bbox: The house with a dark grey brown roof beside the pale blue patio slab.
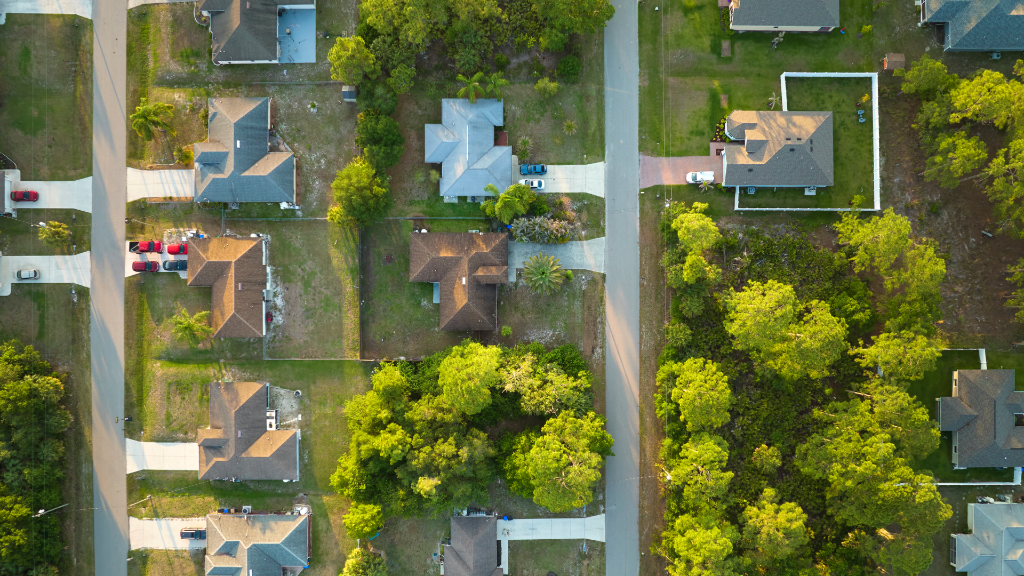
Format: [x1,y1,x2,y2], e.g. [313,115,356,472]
[198,0,317,66]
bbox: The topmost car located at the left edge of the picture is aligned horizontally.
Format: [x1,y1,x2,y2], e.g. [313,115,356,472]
[11,190,41,203]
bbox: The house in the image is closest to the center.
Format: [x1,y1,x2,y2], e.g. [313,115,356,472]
[409,232,509,331]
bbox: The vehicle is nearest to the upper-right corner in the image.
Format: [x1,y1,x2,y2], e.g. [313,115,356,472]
[685,171,715,184]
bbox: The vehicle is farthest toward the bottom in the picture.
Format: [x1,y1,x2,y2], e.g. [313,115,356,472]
[180,527,206,541]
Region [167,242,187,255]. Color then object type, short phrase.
red vehicle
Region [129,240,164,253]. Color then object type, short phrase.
red vehicle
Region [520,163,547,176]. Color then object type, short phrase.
blue vehicle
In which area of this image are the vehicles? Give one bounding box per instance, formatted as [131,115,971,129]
[164,259,187,271]
[520,178,545,191]
[180,527,206,541]
[685,171,715,184]
[11,190,41,203]
[520,163,547,176]
[167,242,187,255]
[132,259,160,272]
[129,240,164,253]
[15,268,41,281]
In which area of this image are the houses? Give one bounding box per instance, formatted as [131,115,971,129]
[198,0,317,66]
[933,369,1024,468]
[0,170,14,215]
[424,98,512,197]
[721,111,833,187]
[718,0,840,31]
[409,232,509,331]
[187,237,268,338]
[192,97,297,203]
[948,503,1024,576]
[443,515,503,576]
[919,0,1024,53]
[205,513,311,576]
[197,381,302,480]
